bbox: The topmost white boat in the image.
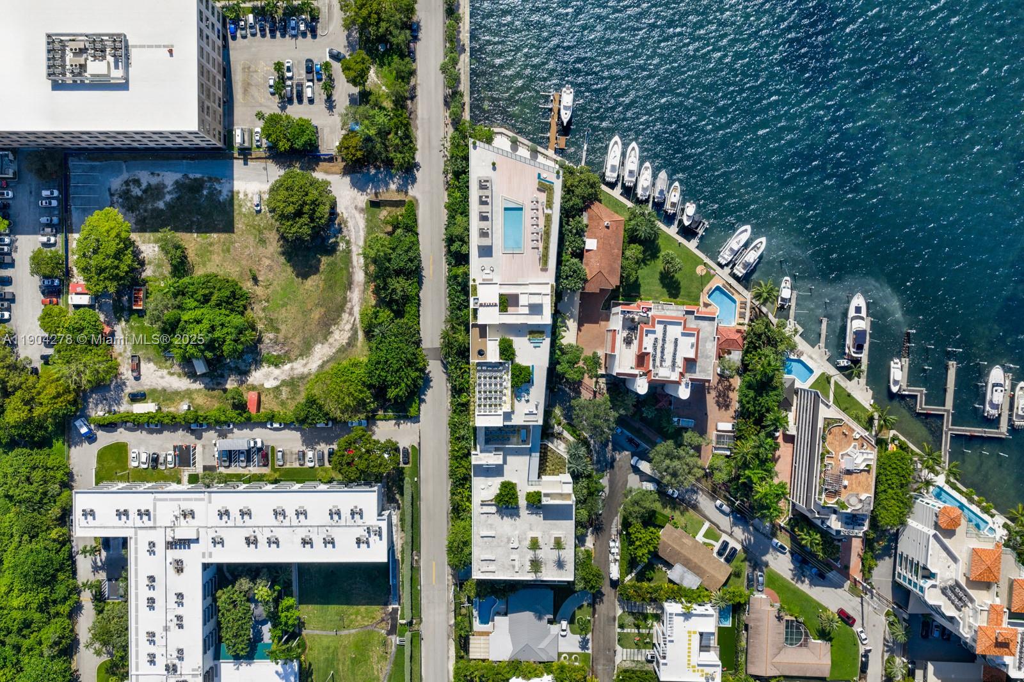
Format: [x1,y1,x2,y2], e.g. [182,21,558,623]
[559,85,573,127]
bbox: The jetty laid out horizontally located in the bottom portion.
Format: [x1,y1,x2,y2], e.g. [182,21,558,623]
[948,426,1008,439]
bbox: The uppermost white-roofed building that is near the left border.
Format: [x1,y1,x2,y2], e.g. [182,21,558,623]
[0,0,227,150]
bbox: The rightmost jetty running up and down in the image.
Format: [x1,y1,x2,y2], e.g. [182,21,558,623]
[997,372,1012,435]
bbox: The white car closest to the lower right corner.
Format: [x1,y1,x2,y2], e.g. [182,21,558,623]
[854,626,868,646]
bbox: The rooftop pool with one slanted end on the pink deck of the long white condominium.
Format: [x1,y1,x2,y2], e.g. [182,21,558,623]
[502,195,526,253]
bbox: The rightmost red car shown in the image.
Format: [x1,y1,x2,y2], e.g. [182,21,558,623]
[836,608,855,625]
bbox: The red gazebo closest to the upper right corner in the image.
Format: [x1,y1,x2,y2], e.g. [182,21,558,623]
[716,327,744,351]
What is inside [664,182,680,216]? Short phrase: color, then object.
white boat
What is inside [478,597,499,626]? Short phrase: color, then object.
blue swimming pool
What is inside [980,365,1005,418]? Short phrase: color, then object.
white boat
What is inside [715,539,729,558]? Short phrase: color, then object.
black car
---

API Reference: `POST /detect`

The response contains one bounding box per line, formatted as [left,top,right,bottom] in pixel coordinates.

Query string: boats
[622,141,638,186]
[664,182,680,216]
[682,201,695,226]
[635,161,651,201]
[653,170,668,203]
[776,277,790,310]
[842,292,866,364]
[732,238,766,278]
[716,225,750,266]
[980,365,1005,418]
[604,135,620,184]
[688,214,701,234]
[559,85,573,127]
[888,358,901,394]
[834,360,850,366]
[1008,381,1024,429]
